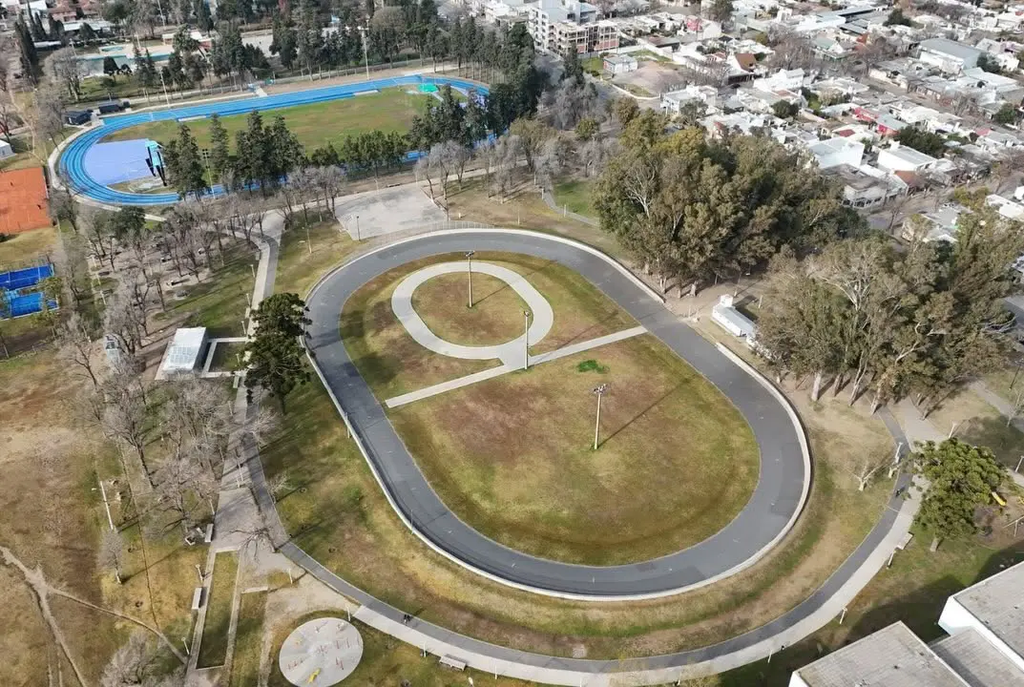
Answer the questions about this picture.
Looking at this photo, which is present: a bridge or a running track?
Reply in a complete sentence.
Visible in the photo is a running track.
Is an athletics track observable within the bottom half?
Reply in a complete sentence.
No, looking within the bottom half, there is no athletics track.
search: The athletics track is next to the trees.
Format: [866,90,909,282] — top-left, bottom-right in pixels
[55,76,519,204]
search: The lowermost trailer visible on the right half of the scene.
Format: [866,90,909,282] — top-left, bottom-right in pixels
[713,303,757,339]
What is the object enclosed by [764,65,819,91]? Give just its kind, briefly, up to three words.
house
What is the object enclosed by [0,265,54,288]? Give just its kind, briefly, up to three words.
sports court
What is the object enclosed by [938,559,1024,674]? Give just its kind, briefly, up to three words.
building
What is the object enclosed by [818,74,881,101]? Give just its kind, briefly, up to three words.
house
